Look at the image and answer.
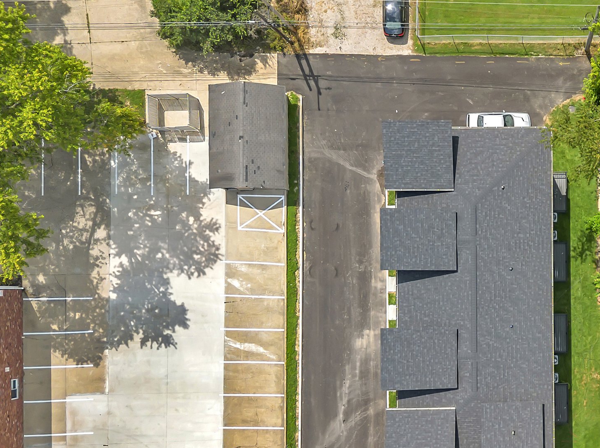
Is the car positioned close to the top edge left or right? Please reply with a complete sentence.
The car positioned close to the top edge is on the right side of the image.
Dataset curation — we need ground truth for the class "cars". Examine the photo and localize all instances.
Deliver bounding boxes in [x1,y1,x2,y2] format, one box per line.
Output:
[383,0,407,39]
[468,108,531,126]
